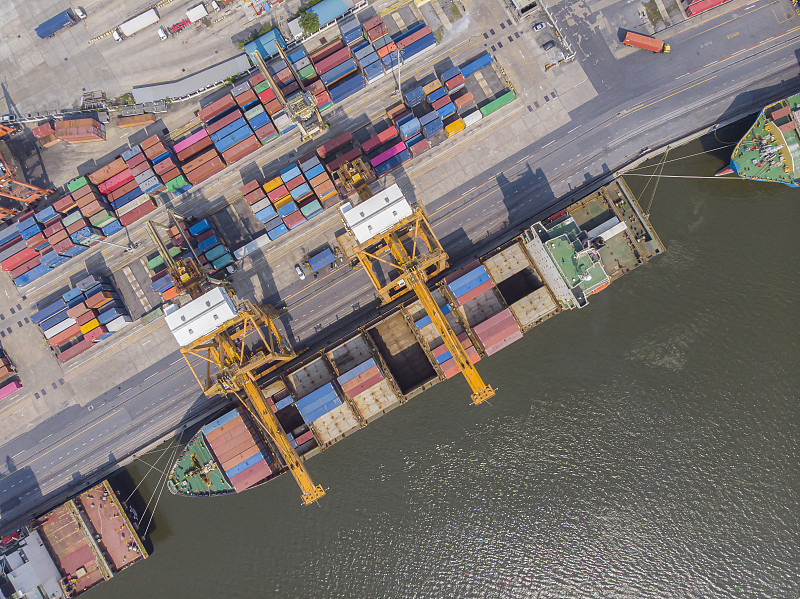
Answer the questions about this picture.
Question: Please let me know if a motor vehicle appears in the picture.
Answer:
Yes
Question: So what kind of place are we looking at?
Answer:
port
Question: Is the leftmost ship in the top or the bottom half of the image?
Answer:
bottom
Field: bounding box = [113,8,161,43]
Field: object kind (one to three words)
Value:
truck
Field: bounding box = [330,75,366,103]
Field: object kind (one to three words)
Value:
shipping container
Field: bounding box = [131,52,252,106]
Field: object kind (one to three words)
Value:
shed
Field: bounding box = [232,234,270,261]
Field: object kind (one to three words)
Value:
shipping container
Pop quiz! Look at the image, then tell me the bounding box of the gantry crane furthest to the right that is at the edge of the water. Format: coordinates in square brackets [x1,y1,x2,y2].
[332,151,496,400]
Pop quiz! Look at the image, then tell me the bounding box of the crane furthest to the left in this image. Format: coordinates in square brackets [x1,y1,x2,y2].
[0,153,59,209]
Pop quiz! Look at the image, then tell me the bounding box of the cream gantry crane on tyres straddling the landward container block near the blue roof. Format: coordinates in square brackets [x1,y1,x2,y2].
[251,37,331,144]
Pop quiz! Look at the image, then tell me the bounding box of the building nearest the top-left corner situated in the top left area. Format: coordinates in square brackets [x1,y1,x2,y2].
[73,86,105,109]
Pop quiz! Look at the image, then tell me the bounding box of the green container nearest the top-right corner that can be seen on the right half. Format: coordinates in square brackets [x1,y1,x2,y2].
[478,89,516,117]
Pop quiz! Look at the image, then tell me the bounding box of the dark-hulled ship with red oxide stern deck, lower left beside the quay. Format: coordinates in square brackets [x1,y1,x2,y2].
[0,480,152,599]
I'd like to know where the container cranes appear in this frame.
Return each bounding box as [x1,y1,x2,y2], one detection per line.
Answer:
[146,205,239,291]
[0,153,59,209]
[251,37,331,144]
[332,151,496,400]
[158,253,322,503]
